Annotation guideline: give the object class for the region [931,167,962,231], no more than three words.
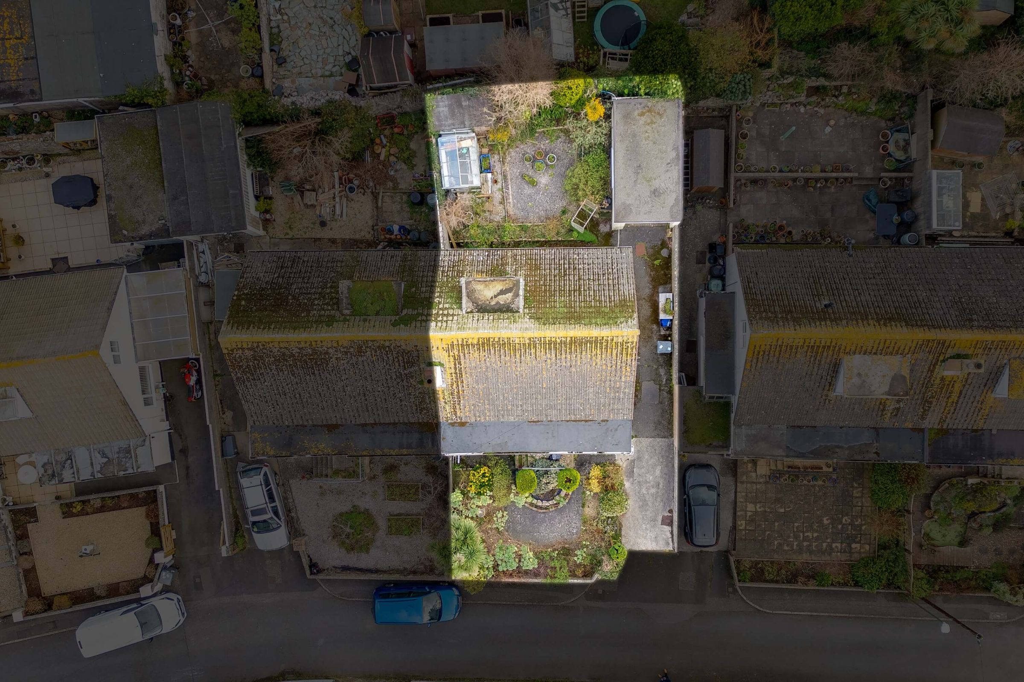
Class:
greenhouse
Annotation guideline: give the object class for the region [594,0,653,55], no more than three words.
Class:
trampoline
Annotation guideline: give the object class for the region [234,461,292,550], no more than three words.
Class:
car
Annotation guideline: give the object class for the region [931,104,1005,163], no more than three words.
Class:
shed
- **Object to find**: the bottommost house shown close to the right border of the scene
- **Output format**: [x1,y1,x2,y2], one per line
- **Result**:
[723,237,1024,467]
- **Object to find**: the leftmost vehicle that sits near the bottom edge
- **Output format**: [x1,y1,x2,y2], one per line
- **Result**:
[74,589,191,663]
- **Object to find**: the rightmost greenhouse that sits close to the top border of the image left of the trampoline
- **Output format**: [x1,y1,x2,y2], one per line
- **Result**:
[528,0,575,70]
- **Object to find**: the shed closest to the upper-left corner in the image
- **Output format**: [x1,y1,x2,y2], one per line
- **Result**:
[0,0,172,118]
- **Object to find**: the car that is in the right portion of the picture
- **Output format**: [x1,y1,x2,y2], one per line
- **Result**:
[679,463,728,548]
